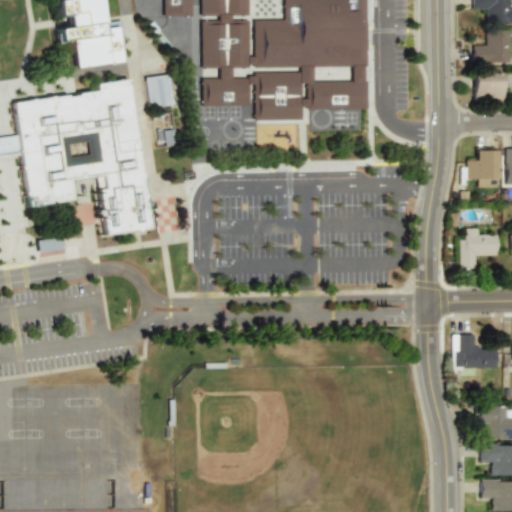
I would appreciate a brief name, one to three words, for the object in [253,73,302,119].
building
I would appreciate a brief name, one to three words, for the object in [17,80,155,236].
building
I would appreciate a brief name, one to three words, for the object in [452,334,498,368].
house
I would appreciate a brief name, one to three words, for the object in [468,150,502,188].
house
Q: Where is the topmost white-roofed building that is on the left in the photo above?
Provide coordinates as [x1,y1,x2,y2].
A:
[58,0,127,69]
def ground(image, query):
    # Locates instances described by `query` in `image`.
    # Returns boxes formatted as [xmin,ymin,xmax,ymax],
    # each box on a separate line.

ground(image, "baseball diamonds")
[175,368,425,512]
